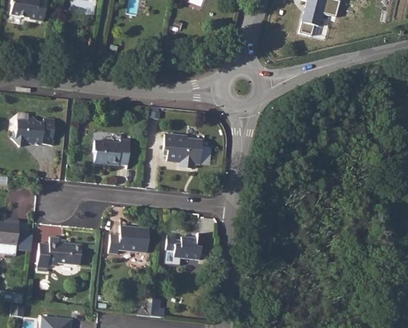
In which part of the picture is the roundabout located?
top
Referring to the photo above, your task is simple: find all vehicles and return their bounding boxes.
[248,44,253,55]
[187,198,198,202]
[261,72,272,77]
[16,86,31,93]
[304,64,316,70]
[106,220,112,232]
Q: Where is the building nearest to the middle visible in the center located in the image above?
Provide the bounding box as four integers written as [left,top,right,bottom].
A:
[163,133,214,170]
